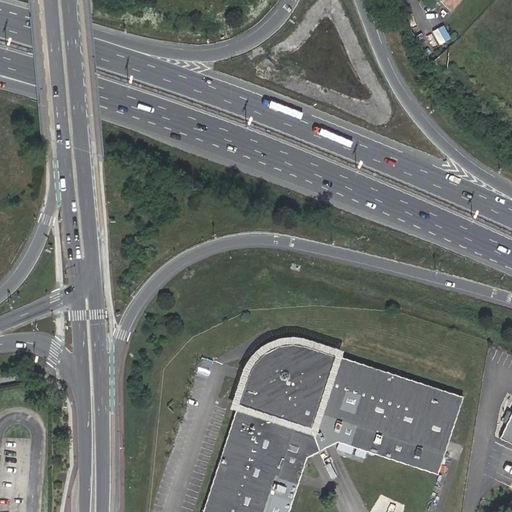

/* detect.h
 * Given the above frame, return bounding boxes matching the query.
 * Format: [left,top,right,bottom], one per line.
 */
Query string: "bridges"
[30,0,104,158]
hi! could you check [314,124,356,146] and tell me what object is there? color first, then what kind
white truck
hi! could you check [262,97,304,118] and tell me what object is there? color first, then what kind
white truck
